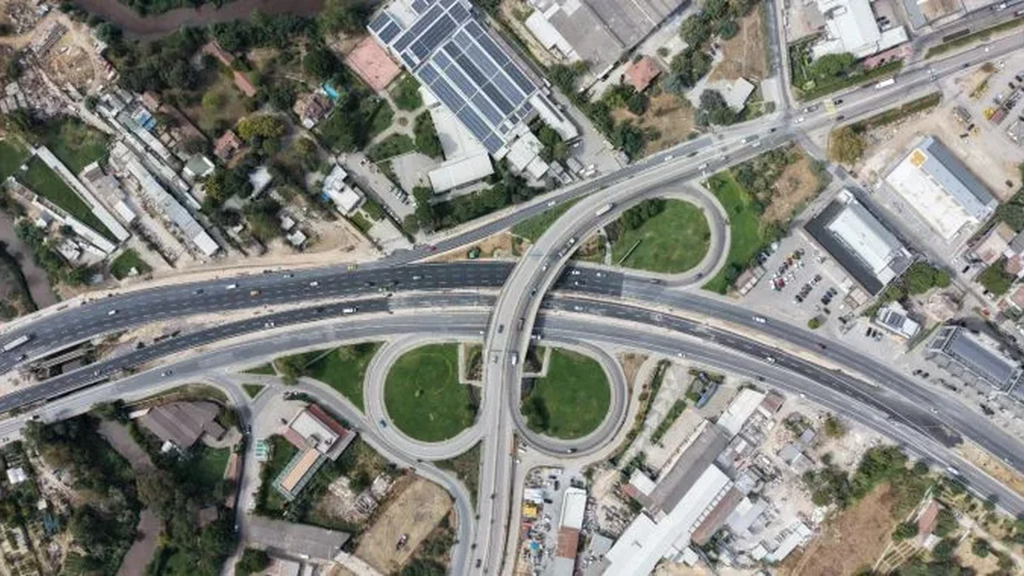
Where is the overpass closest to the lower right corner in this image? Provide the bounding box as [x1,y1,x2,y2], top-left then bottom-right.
[467,112,797,576]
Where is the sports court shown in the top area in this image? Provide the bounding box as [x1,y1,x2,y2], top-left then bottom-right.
[347,37,400,89]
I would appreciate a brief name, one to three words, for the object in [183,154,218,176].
house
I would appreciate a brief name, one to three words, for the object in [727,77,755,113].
shed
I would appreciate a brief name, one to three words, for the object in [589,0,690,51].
building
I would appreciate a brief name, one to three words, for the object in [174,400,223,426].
house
